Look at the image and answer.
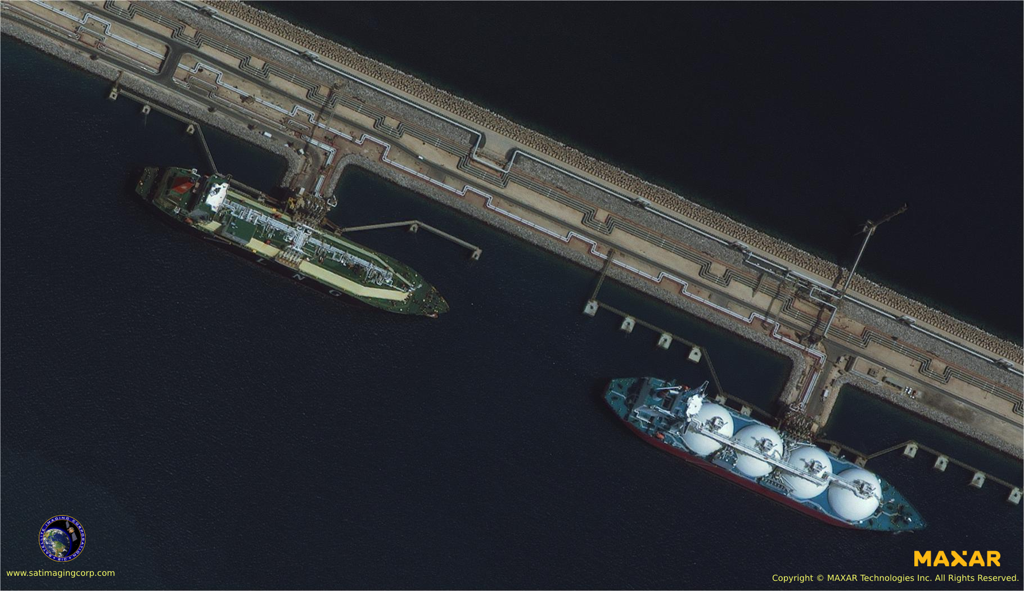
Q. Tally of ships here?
2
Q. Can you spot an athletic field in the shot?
No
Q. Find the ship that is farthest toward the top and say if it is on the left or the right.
left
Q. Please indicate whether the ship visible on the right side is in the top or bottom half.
bottom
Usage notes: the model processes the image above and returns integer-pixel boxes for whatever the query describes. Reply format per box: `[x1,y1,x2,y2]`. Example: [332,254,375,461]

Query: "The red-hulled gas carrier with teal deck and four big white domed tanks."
[604,378,925,534]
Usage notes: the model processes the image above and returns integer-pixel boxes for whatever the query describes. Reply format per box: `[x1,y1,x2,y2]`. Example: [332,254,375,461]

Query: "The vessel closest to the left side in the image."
[137,167,450,319]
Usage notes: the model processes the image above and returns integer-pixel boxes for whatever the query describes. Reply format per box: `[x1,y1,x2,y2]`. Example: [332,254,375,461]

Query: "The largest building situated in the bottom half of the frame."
[849,356,885,384]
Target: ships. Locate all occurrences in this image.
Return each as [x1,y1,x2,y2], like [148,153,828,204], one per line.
[604,378,925,534]
[137,167,450,319]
